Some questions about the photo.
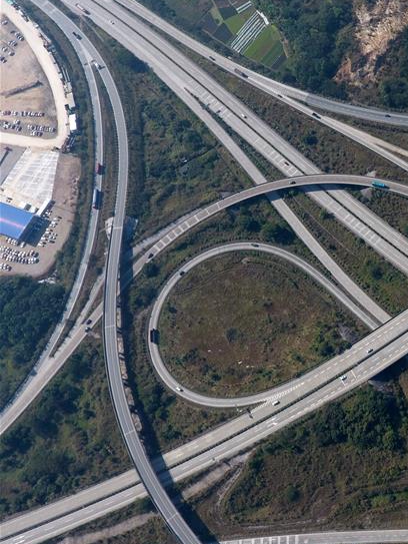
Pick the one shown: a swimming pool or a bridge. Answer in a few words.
bridge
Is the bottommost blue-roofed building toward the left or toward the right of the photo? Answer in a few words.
left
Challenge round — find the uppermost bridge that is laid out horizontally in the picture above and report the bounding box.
[226,174,406,205]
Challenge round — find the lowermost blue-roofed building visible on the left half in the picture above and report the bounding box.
[0,204,39,241]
